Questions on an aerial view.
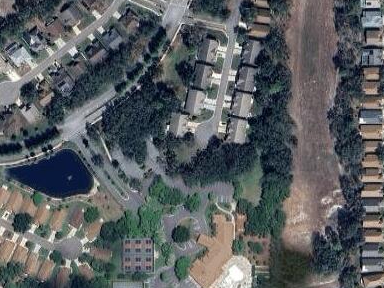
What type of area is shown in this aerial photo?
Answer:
residential area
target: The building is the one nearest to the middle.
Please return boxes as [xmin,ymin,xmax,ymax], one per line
[169,113,189,137]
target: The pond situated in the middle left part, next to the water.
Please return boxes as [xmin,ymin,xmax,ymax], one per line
[6,149,95,197]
